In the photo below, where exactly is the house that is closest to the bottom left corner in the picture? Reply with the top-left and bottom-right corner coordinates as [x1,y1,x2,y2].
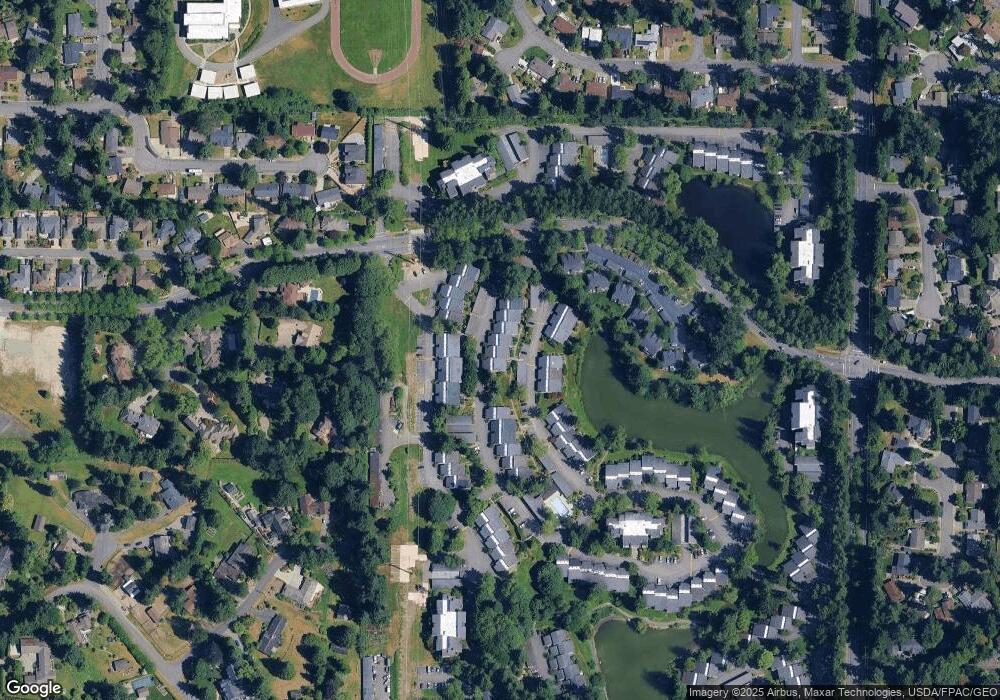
[20,638,50,679]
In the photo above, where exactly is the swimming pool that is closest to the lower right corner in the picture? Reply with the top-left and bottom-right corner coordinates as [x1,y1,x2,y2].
[545,491,575,522]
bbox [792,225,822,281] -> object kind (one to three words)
building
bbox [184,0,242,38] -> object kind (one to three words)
building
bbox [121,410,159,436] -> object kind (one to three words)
house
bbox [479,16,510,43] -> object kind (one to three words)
house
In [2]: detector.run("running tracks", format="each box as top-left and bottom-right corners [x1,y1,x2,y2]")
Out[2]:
[330,0,421,83]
